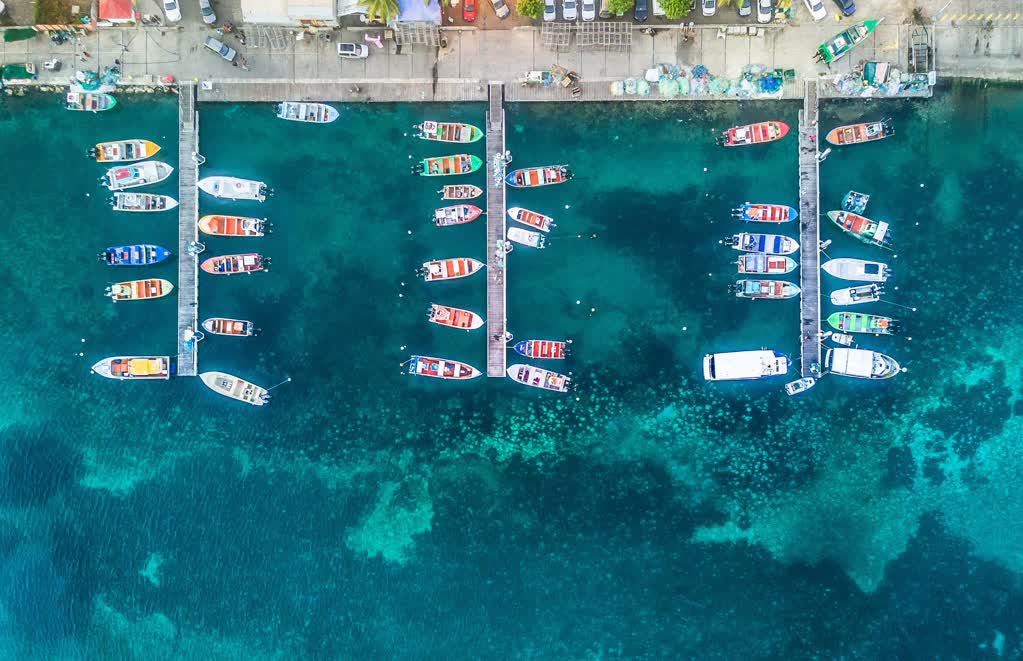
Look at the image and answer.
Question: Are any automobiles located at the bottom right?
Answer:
No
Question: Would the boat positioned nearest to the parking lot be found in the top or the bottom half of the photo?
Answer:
top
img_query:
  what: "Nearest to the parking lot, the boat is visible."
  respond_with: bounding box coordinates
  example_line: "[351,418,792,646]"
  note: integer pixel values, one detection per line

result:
[816,17,888,62]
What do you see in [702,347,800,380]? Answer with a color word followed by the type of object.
white vessel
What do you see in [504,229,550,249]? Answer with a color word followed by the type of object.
white boat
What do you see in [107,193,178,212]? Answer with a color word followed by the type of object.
white boat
